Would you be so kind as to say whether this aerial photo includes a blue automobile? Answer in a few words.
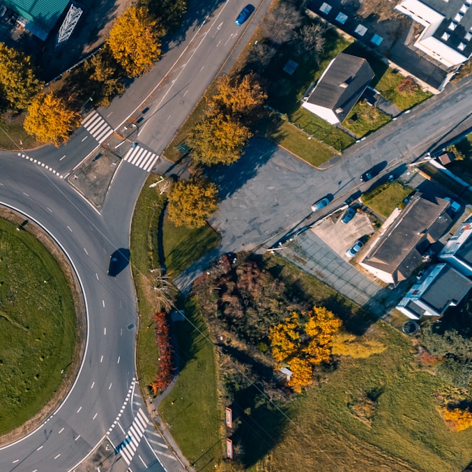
Yes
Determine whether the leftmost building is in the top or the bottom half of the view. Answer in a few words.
top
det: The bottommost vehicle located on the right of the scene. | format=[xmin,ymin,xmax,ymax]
[344,239,365,257]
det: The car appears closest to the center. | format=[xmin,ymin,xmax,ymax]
[310,195,331,211]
